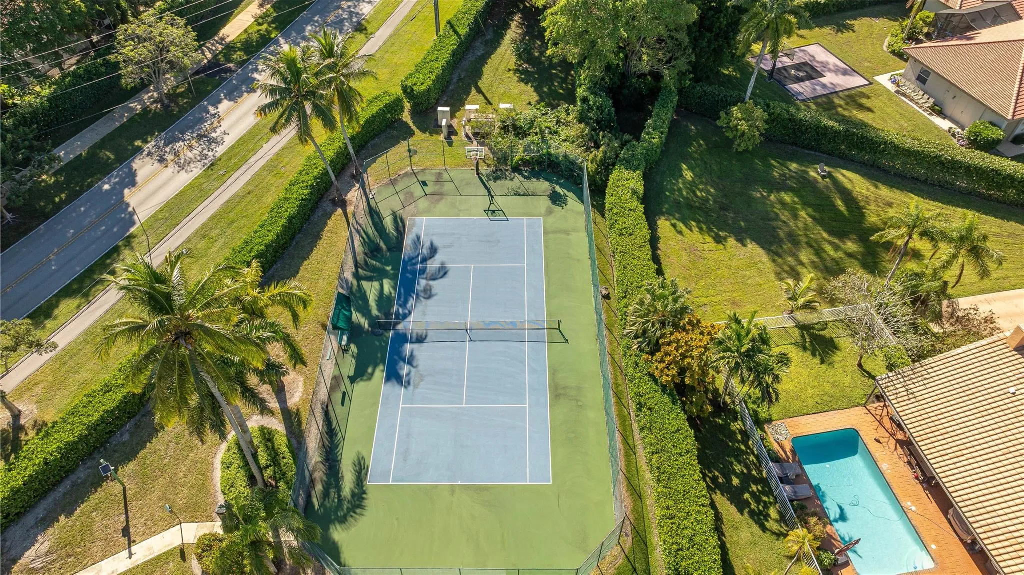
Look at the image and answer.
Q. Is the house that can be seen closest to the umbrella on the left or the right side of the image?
right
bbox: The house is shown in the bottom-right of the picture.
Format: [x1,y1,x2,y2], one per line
[866,305,1024,575]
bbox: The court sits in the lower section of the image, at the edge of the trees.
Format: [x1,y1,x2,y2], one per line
[303,168,615,575]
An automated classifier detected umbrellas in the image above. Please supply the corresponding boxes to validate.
[835,540,860,562]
